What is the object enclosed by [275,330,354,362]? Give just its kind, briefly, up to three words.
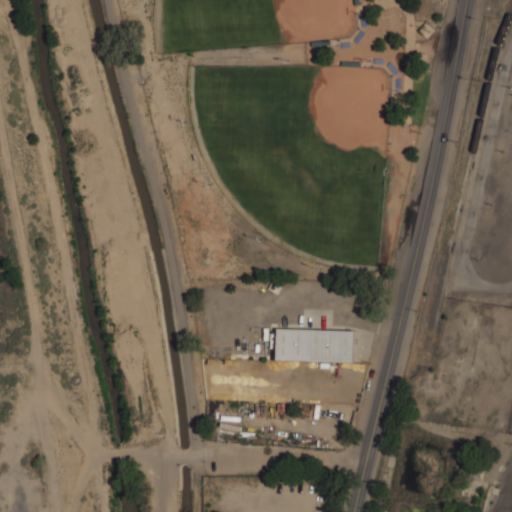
building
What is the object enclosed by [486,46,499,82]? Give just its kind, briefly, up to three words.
rail car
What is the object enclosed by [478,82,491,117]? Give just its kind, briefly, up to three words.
rail car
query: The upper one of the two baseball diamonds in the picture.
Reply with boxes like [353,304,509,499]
[157,0,357,53]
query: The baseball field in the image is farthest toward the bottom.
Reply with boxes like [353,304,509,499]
[192,66,390,269]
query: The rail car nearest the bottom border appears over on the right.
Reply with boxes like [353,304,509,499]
[470,118,483,154]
